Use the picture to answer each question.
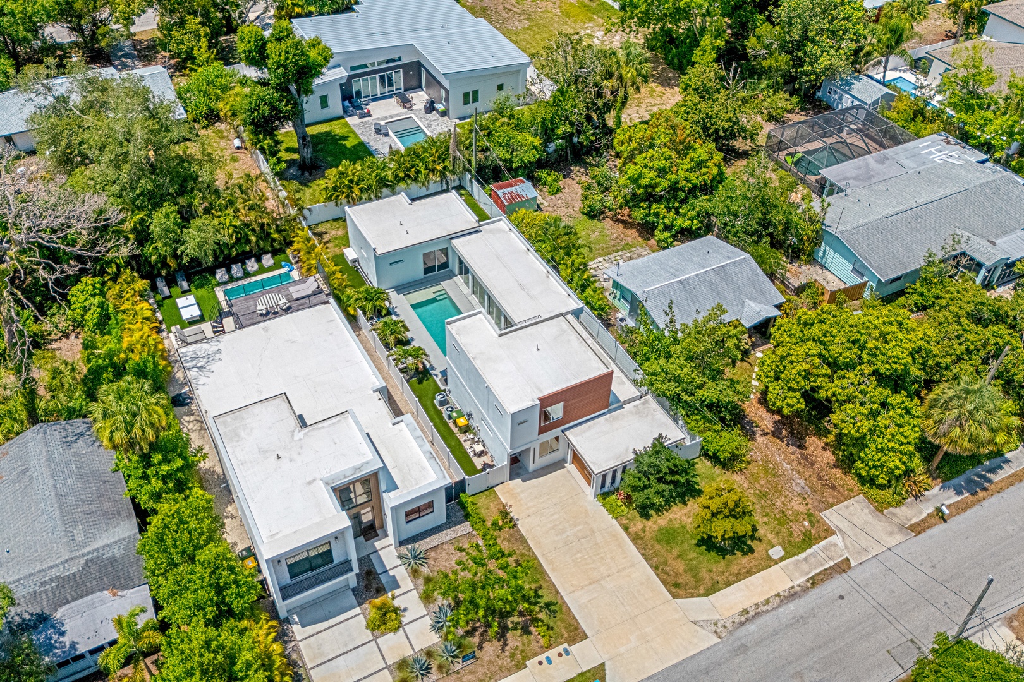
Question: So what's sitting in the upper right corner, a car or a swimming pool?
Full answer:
Looking in the upper right corner, you will find a swimming pool.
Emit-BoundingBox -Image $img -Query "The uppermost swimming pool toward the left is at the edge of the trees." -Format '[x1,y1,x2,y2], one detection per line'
[381,112,435,148]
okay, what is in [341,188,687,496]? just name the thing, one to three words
house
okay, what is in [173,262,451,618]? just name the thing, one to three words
house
